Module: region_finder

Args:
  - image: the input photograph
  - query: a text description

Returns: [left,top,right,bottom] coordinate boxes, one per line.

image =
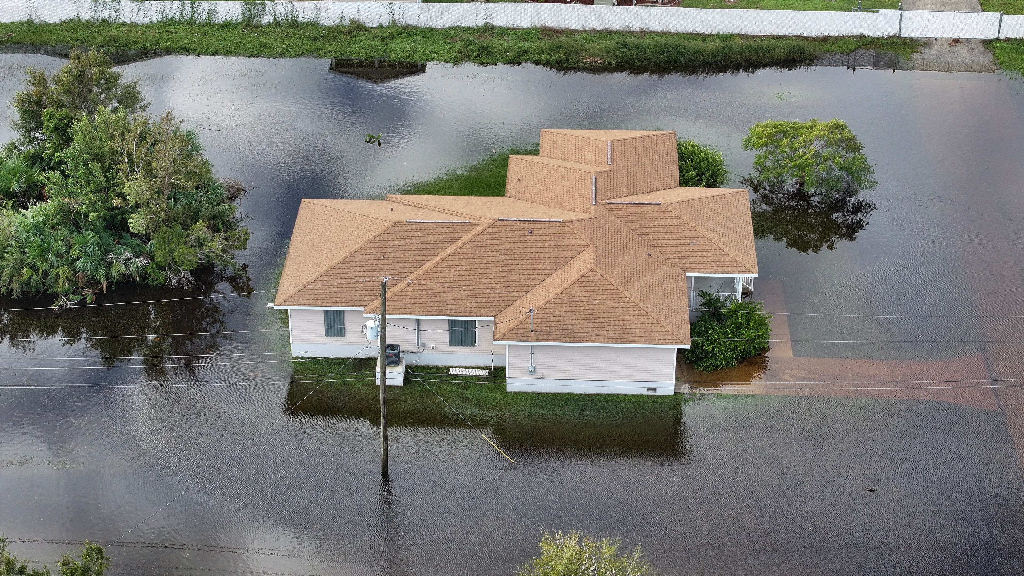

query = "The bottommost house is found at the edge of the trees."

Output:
[266,128,760,404]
